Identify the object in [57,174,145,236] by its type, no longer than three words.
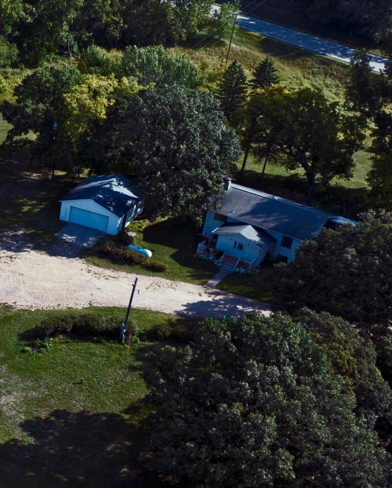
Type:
building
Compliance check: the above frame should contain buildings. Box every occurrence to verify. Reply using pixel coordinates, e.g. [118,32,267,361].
[57,174,145,236]
[191,174,362,271]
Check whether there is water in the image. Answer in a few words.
No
